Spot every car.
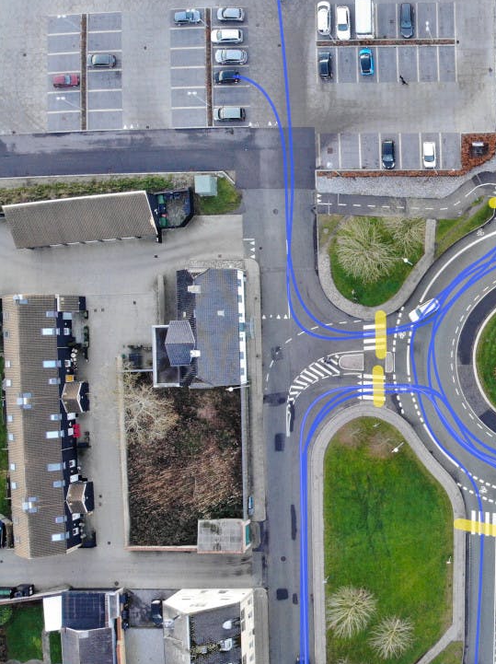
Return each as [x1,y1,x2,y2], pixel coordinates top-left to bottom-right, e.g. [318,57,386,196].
[87,52,118,69]
[317,52,333,80]
[174,8,202,26]
[398,2,414,39]
[409,298,439,322]
[0,516,10,548]
[215,68,240,84]
[213,105,246,121]
[217,4,246,23]
[297,656,311,664]
[380,139,396,170]
[216,46,248,65]
[8,583,37,598]
[358,48,373,77]
[421,141,436,168]
[211,27,244,44]
[334,5,350,41]
[148,598,165,624]
[315,2,331,36]
[53,71,81,89]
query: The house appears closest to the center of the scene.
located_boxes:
[152,269,254,389]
